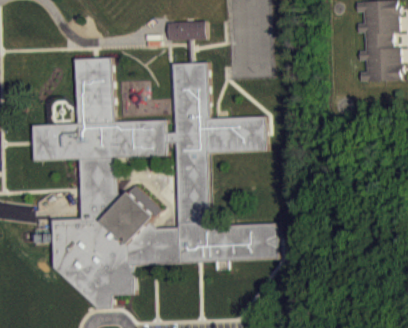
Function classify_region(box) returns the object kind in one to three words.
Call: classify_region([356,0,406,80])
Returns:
house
